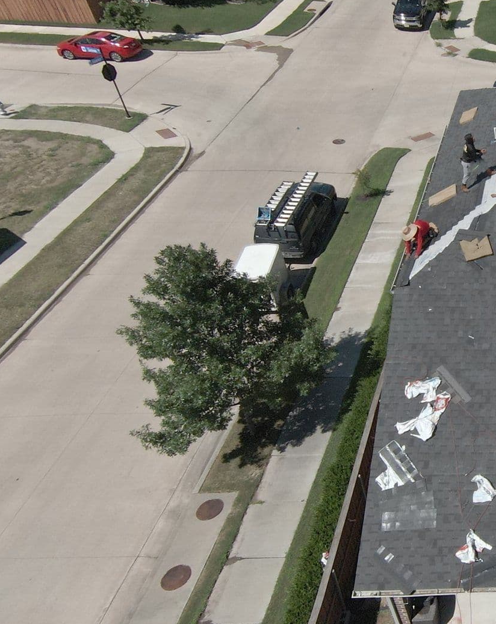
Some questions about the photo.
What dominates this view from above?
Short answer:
paved ground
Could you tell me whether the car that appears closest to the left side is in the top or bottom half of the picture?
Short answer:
top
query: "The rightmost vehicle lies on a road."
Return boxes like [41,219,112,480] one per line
[389,0,434,29]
